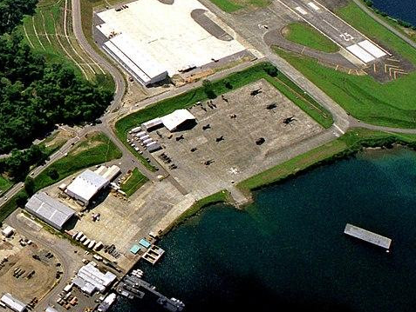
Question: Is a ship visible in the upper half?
No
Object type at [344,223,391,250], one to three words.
ship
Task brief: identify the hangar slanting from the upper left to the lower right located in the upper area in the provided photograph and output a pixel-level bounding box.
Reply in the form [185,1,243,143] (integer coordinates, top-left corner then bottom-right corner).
[102,34,169,90]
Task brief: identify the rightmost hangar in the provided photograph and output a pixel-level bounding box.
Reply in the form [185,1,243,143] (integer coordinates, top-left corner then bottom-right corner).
[162,112,198,135]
